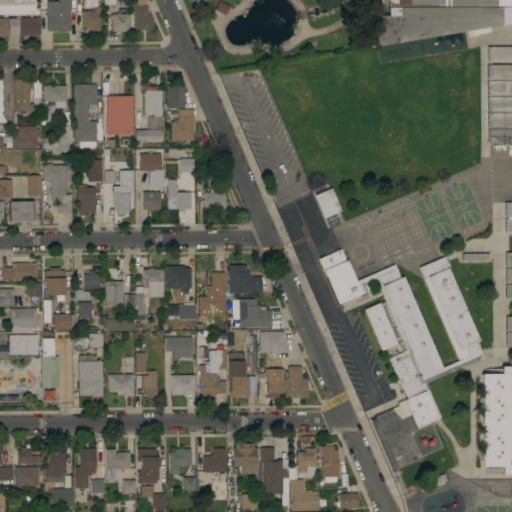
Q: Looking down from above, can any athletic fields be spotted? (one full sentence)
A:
Yes, an athletic field appears in the view.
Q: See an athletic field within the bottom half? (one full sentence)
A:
No, I can find no athletic field within the bottom half.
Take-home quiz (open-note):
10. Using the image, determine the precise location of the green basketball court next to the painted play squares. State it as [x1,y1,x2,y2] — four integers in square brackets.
[414,192,456,242]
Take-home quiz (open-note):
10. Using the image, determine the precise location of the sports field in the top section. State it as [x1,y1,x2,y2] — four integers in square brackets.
[262,47,480,223]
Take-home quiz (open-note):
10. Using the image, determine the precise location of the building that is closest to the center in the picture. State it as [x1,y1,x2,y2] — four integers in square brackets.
[230,265,262,293]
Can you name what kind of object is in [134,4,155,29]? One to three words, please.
house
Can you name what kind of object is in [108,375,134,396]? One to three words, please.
house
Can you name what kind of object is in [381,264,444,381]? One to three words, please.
building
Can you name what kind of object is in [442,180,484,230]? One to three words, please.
basketball court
